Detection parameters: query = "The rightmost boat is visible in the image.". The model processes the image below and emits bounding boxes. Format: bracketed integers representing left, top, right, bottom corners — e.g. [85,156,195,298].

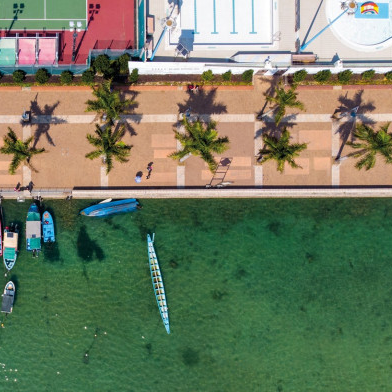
[148,233,168,333]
